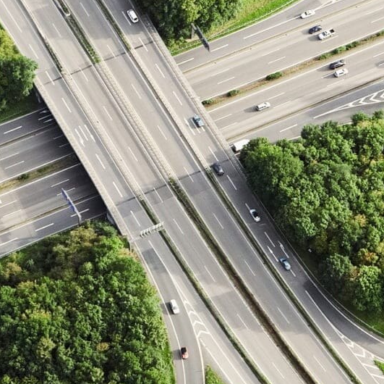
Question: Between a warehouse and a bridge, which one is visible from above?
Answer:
bridge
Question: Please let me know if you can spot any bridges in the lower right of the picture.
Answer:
No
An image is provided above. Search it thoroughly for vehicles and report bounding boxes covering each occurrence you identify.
[250,209,260,221]
[309,25,323,34]
[235,131,267,151]
[319,29,334,39]
[255,102,270,111]
[300,10,315,18]
[330,60,344,68]
[334,69,346,76]
[279,258,290,270]
[180,346,188,360]
[212,162,223,175]
[127,10,136,22]
[169,299,179,315]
